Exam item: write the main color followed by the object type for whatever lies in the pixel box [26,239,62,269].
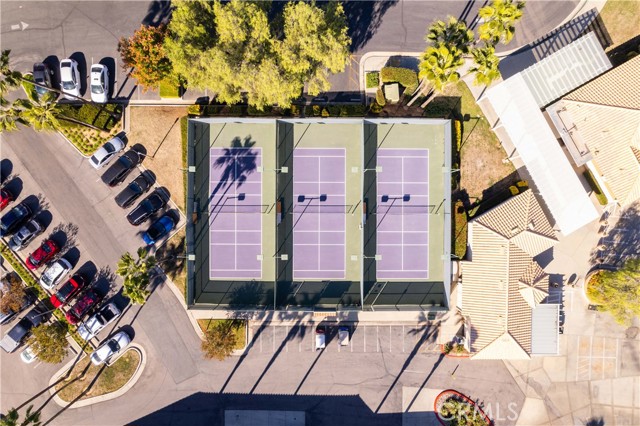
red car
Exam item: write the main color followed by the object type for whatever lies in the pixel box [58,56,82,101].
white car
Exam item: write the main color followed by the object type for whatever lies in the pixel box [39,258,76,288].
white car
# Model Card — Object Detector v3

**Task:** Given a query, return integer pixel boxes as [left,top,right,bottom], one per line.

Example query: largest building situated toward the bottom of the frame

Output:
[456,188,560,360]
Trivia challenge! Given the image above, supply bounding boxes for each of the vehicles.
[26,239,62,269]
[91,332,131,365]
[99,149,145,185]
[78,302,122,338]
[125,189,172,227]
[88,62,111,105]
[114,171,157,206]
[338,324,349,345]
[0,313,46,352]
[48,275,89,308]
[19,344,41,364]
[31,60,54,98]
[0,186,19,211]
[58,56,82,101]
[88,134,128,166]
[140,214,181,243]
[7,219,46,250]
[0,202,36,235]
[64,289,105,322]
[39,258,76,288]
